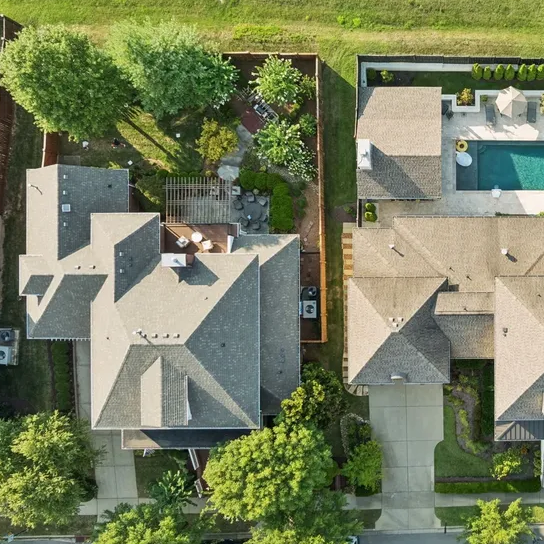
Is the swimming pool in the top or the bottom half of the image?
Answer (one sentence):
It is in the top half that the swimming pool appears.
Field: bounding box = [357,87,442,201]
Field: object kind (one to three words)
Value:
building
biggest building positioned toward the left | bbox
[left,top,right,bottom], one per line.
[18,164,304,449]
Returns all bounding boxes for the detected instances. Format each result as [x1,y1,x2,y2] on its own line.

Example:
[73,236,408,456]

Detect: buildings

[18,164,304,449]
[348,216,544,441]
[357,87,442,201]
